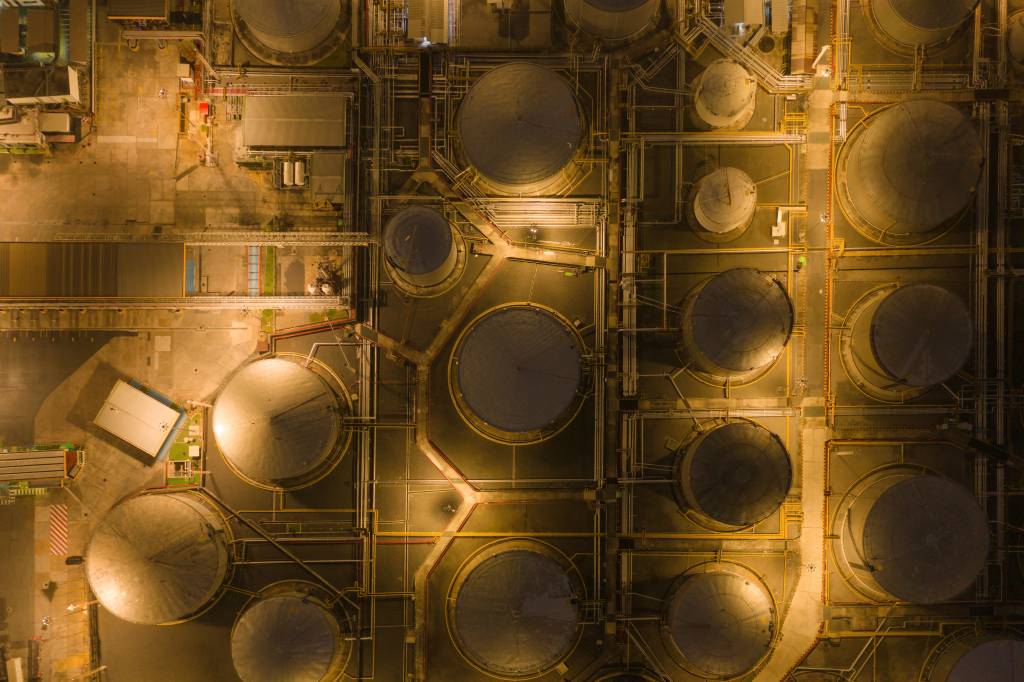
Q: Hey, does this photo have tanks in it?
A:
Yes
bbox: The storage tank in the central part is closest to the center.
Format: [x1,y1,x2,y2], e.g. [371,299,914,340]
[447,300,593,445]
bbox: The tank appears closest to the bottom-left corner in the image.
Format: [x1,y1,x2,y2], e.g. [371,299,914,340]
[86,484,235,629]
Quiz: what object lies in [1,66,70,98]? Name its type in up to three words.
building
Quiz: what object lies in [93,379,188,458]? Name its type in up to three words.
building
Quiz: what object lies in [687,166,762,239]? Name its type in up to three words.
storage tank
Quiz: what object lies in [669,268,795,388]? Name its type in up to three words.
storage tank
